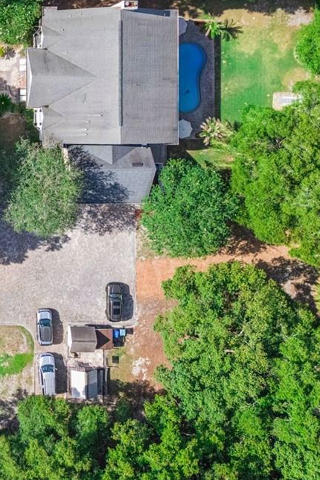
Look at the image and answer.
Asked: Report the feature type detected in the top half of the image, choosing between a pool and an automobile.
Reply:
pool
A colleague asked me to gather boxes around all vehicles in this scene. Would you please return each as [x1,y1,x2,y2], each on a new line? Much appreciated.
[36,308,54,344]
[104,281,123,319]
[37,352,56,396]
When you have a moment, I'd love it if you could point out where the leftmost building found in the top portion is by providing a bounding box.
[16,0,179,203]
